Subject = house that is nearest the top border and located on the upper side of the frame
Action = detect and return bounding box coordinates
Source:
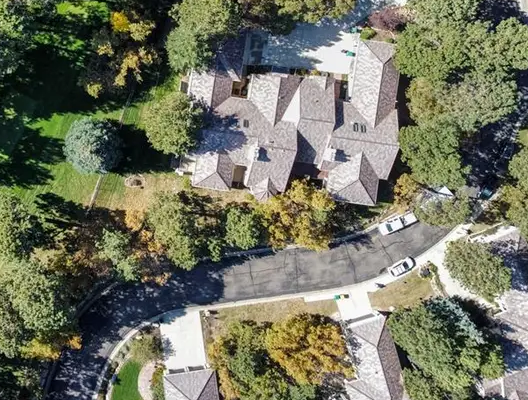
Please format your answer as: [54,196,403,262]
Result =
[186,22,399,206]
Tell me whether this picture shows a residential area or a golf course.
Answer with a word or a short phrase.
residential area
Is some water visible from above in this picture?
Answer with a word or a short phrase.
No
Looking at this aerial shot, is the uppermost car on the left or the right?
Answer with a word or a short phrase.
right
